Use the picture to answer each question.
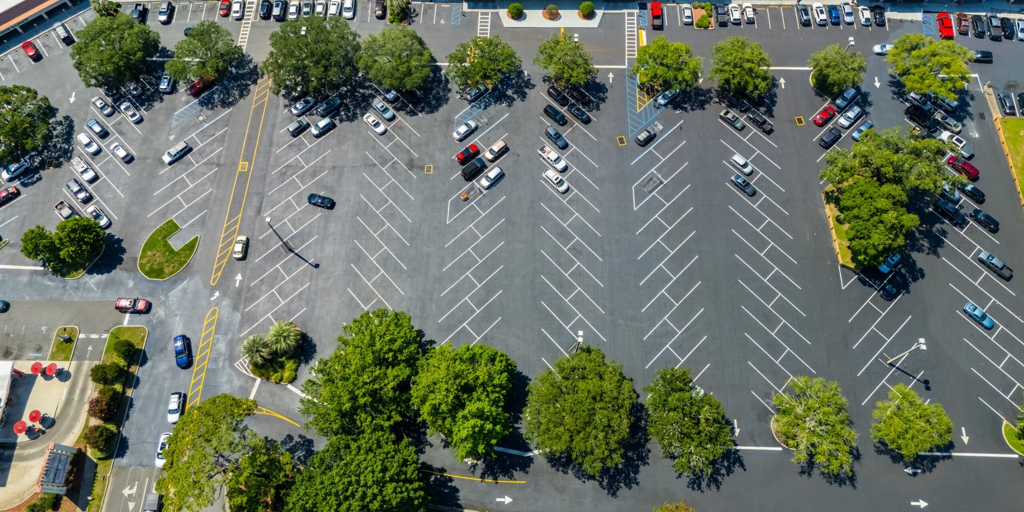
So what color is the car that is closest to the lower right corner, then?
blue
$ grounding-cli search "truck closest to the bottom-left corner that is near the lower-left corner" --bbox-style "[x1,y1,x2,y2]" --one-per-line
[140,489,163,512]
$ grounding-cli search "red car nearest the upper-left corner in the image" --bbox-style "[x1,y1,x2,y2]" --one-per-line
[21,41,42,63]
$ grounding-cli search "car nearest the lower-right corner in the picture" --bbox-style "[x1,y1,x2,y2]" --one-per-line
[960,299,996,331]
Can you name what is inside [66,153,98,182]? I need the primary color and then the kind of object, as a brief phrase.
white truck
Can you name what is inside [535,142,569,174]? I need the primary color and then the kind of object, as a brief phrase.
white truck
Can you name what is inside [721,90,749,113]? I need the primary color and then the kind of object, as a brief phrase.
black car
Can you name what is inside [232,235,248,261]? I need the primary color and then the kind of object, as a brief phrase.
white car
